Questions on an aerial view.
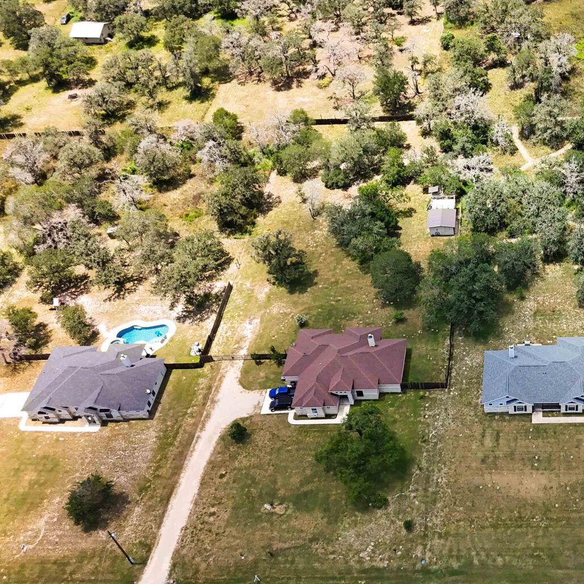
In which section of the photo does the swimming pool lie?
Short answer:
left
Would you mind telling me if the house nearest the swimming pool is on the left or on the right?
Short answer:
left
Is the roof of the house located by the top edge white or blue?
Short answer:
white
